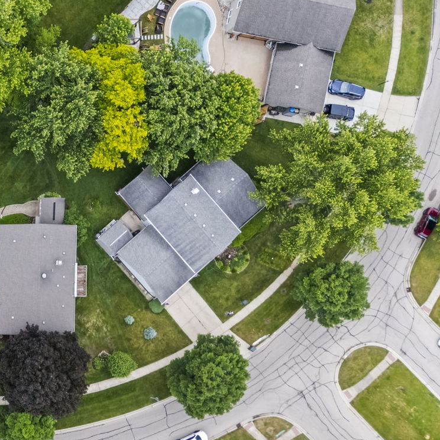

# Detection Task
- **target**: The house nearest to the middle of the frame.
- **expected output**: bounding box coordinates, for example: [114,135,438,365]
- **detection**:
[113,150,265,305]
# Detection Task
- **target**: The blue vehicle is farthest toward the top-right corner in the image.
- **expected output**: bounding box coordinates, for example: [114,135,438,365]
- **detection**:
[328,79,367,101]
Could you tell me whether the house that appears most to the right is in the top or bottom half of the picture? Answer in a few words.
top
